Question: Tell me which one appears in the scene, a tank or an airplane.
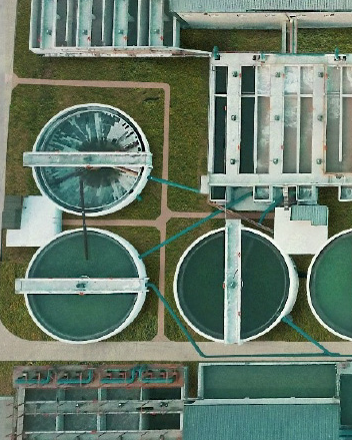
tank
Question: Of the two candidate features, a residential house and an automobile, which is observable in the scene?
residential house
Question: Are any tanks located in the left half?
Yes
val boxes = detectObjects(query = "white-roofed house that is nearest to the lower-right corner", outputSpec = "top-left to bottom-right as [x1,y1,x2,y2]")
[275,205,331,254]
